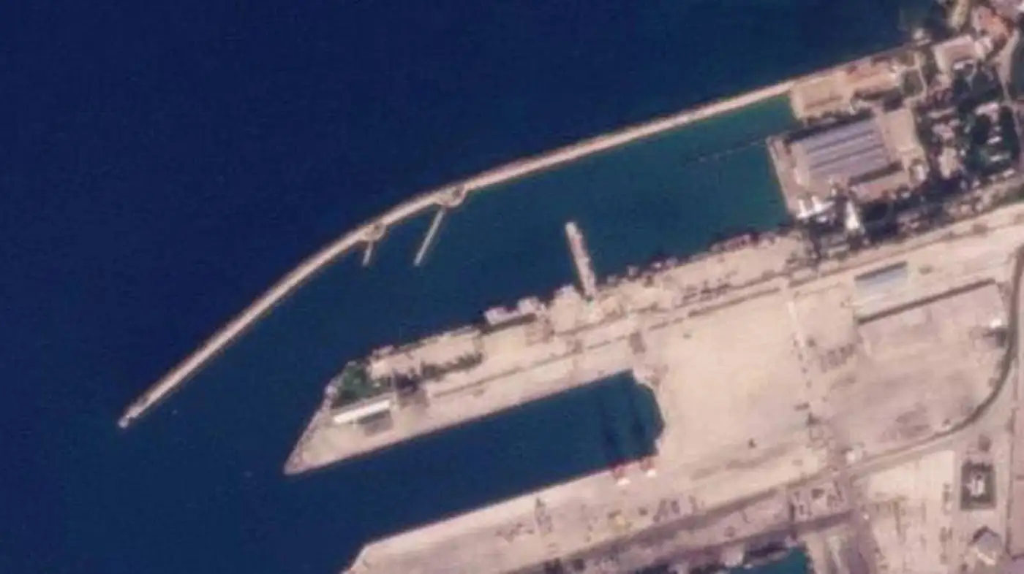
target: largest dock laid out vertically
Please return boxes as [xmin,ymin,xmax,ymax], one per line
[567,223,596,304]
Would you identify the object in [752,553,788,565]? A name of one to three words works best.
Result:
ship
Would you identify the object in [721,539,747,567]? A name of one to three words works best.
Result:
building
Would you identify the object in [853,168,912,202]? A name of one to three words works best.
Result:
building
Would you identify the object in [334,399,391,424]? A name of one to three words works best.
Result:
shed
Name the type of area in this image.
port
